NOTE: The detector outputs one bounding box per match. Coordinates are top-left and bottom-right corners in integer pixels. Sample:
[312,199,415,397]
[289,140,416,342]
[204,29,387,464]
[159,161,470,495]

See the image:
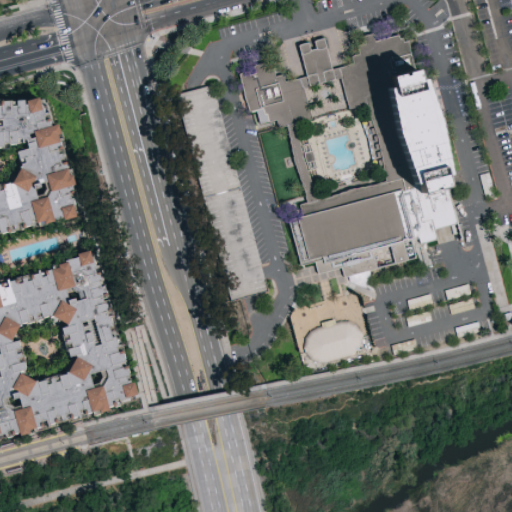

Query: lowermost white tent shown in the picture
[304,320,364,362]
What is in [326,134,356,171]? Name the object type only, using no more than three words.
swimming pool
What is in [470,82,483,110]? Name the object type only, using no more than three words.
vehicle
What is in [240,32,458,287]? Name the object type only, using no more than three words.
building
